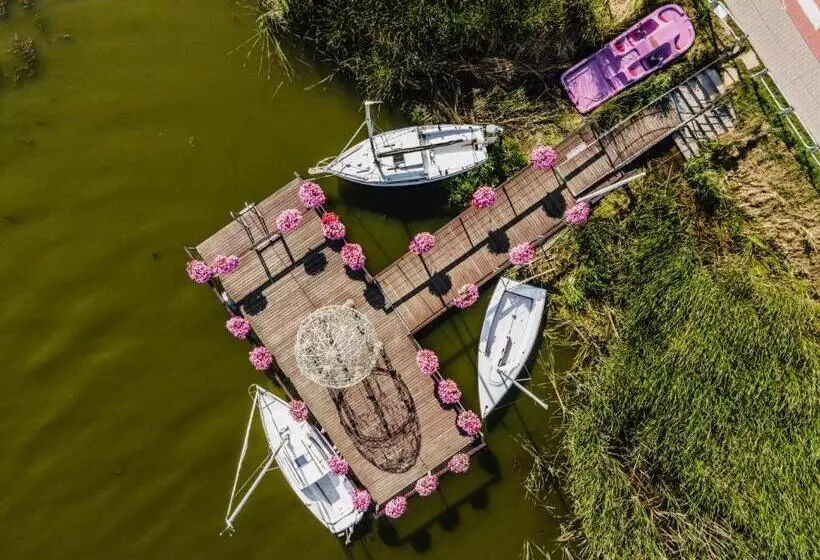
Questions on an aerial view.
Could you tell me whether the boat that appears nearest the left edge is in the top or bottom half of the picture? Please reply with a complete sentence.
You can find the boat that appears nearest the left edge in the bottom half.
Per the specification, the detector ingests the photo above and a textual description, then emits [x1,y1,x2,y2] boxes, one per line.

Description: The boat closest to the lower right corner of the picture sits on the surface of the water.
[476,276,546,419]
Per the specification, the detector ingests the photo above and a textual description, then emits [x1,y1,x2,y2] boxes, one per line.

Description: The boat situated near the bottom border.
[214,385,384,539]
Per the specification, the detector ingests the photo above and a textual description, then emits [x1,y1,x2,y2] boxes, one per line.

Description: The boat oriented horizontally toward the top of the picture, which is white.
[298,99,502,187]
